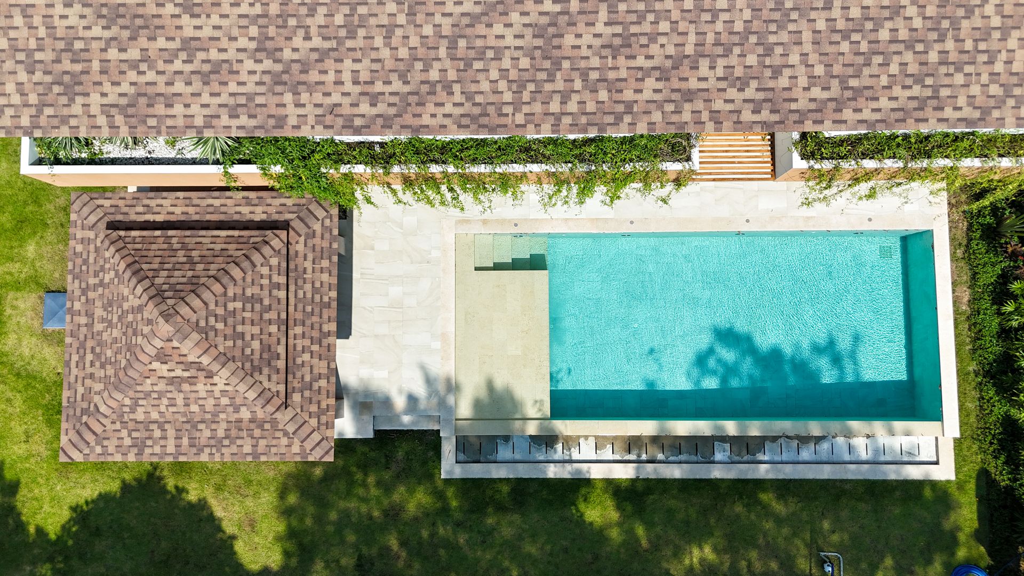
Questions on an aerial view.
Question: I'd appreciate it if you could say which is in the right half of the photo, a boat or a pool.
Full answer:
You can see a pool in the right half of the photo.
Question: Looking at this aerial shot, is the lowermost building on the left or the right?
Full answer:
You can find the lowermost building on the left side of the picture.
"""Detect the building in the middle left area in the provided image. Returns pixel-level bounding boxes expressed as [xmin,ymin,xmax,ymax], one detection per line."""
[58,189,346,462]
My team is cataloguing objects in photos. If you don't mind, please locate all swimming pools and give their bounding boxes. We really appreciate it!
[440,217,960,437]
